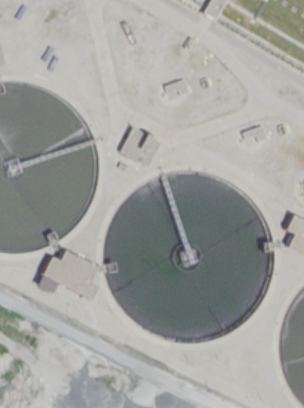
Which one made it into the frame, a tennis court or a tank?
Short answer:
tank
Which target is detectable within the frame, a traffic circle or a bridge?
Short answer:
bridge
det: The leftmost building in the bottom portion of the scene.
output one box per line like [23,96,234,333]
[37,249,100,300]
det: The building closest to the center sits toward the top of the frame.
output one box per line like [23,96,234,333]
[118,126,161,165]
